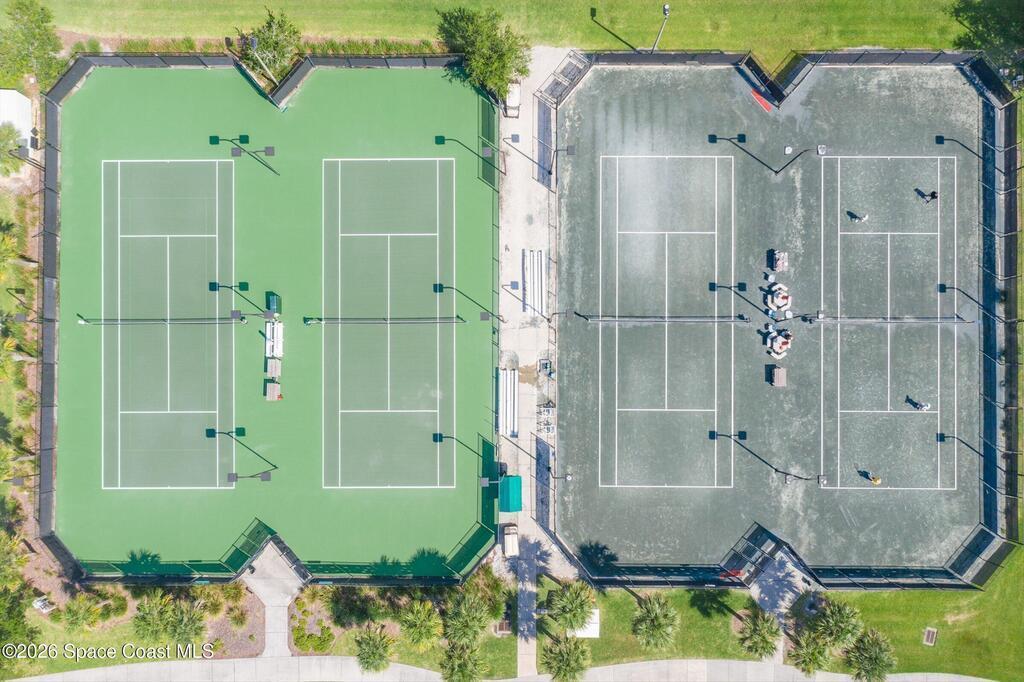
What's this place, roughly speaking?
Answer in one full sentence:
What you see here is a sports ground.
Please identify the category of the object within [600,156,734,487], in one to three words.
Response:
tennis court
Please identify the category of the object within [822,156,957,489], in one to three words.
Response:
tennis court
